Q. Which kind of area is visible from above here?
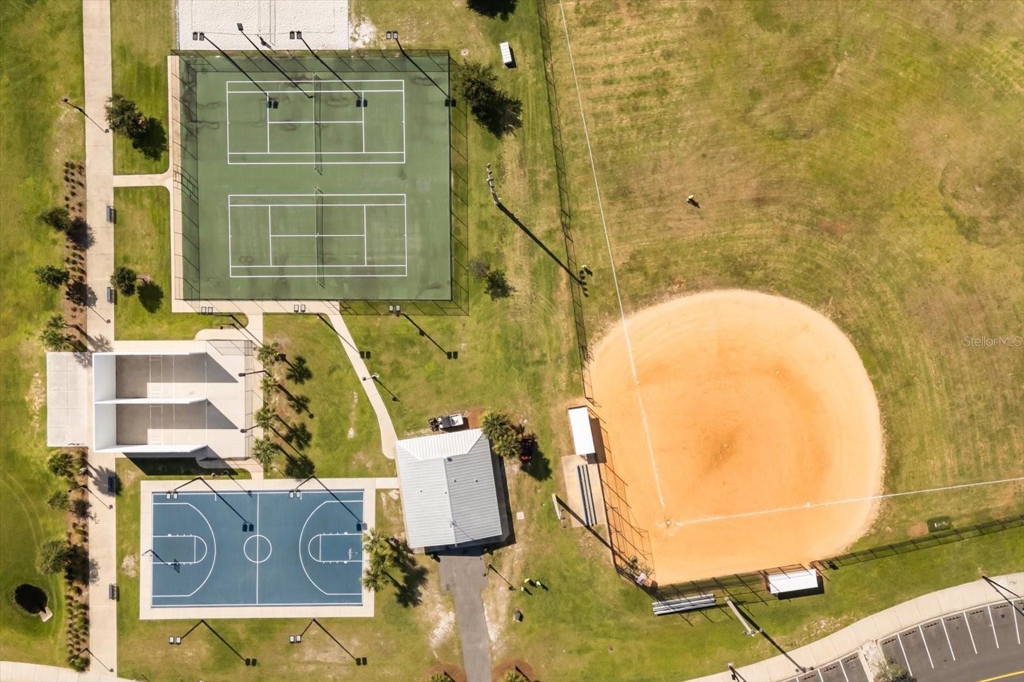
sports ground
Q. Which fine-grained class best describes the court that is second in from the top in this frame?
tennis court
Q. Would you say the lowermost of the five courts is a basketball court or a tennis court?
basketball court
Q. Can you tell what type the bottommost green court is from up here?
tennis court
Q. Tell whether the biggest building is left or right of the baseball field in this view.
left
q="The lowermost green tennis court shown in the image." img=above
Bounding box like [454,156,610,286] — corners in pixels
[181,178,453,300]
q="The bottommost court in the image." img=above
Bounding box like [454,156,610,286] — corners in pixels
[151,490,363,608]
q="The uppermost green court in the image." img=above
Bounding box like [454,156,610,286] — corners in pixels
[179,56,452,178]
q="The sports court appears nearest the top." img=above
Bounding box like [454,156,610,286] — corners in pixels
[176,0,350,49]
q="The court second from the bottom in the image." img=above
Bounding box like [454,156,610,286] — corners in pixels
[93,340,252,459]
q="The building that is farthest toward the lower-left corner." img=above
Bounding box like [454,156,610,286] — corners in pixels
[396,429,502,548]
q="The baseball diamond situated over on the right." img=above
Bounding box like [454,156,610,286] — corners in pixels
[541,0,1024,590]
